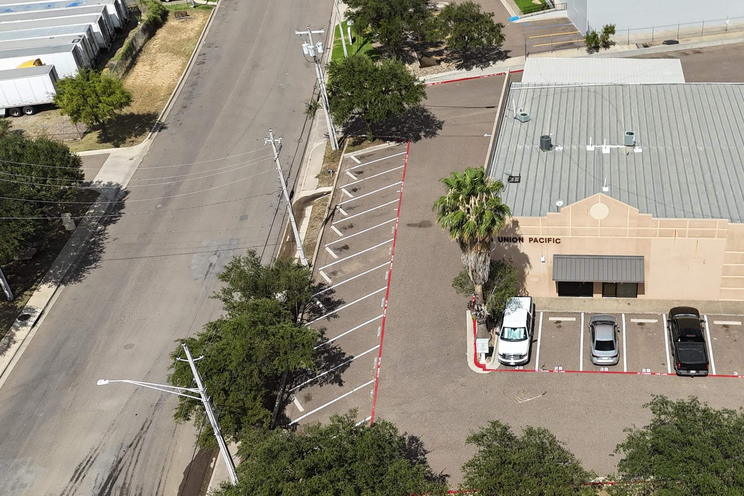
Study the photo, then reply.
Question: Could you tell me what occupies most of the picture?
paved ground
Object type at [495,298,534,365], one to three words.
truck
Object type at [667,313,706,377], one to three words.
truck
